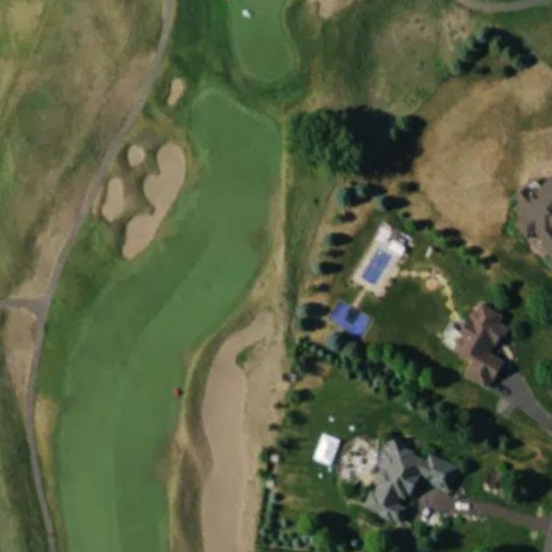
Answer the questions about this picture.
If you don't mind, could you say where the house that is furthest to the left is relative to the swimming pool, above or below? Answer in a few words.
below it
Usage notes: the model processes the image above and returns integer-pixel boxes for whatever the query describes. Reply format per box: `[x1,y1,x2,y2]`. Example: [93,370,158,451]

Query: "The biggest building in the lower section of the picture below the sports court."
[358,435,458,526]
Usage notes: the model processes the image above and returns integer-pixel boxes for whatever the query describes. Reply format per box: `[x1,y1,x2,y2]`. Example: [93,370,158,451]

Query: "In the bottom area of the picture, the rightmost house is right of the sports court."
[453,300,511,388]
